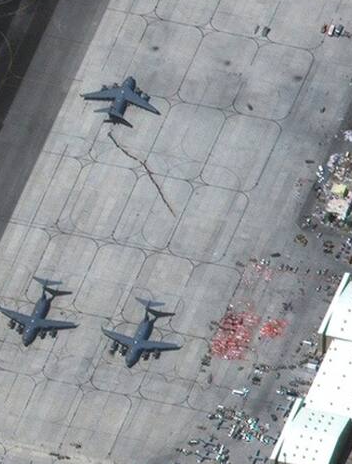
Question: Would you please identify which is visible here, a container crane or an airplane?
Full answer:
I can see an airplane in this picture.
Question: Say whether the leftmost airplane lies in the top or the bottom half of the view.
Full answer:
You can find the leftmost airplane in the bottom half.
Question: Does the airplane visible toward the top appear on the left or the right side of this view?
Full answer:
The airplane visible toward the top sits on the left side.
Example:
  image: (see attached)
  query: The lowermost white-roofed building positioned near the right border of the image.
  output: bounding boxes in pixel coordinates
[271,401,348,464]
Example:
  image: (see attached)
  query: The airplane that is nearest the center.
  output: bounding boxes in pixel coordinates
[103,295,181,368]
